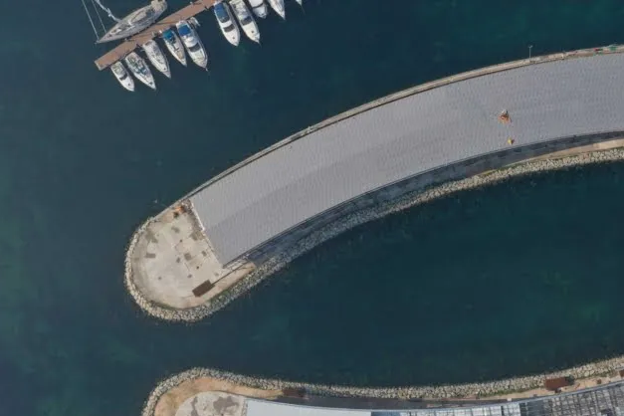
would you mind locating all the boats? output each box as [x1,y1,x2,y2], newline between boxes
[112,58,136,91]
[265,0,286,21]
[209,2,240,47]
[159,27,188,67]
[245,0,267,20]
[228,0,261,45]
[175,20,210,70]
[78,0,172,44]
[143,36,173,78]
[125,48,157,90]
